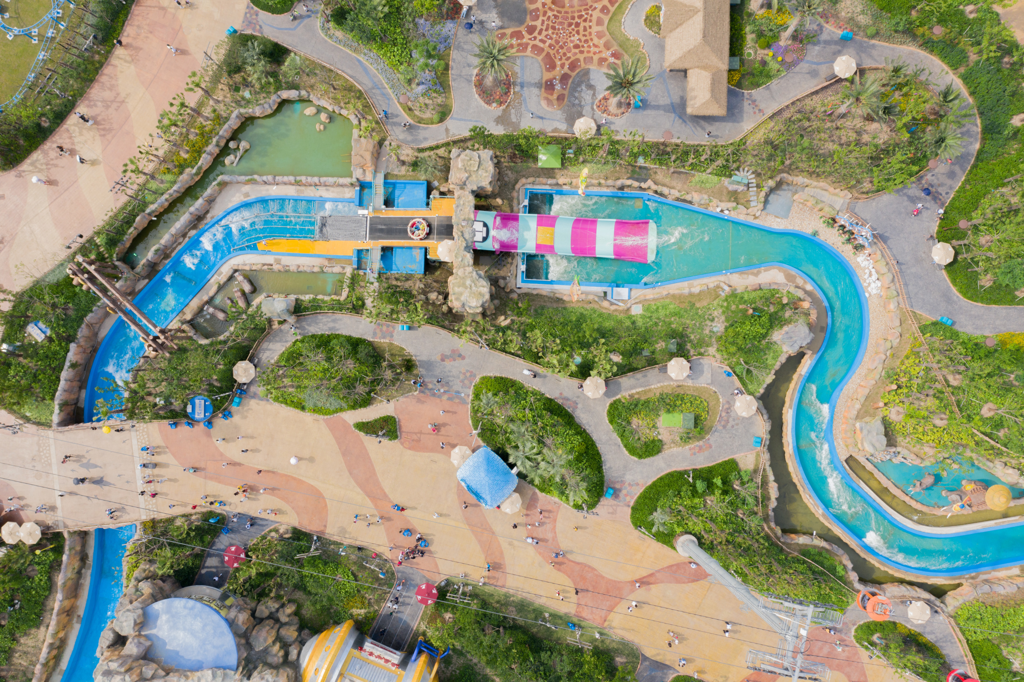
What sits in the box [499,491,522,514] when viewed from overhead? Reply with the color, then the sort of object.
white umbrella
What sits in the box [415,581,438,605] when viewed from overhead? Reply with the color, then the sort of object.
red umbrella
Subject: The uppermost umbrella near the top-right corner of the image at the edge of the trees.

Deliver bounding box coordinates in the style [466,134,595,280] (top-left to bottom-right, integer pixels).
[832,56,855,79]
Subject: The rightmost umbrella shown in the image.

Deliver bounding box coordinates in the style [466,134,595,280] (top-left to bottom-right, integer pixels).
[981,482,1010,511]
